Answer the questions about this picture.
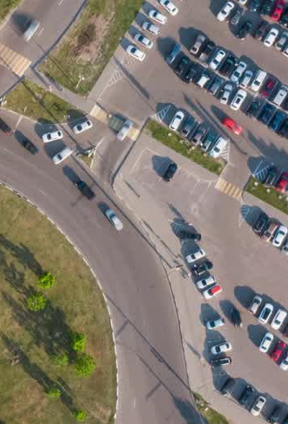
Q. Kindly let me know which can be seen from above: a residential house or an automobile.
automobile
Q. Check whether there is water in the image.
No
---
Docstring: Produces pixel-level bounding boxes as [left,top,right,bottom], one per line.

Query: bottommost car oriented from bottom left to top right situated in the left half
[52,145,72,163]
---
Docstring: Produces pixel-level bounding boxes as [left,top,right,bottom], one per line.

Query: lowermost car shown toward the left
[104,208,121,227]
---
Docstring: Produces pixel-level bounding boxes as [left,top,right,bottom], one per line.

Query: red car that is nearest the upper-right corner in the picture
[269,0,286,22]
